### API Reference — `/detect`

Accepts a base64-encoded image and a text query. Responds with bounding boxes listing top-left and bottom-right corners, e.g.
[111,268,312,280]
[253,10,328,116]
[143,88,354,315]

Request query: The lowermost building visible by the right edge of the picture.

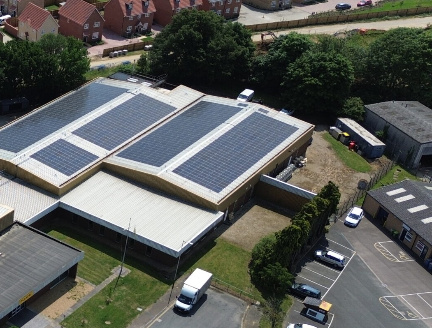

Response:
[363,176,432,258]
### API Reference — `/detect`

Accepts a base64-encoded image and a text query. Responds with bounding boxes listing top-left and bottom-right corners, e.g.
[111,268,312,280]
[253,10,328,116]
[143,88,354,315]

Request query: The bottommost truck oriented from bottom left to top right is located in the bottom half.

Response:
[173,267,213,315]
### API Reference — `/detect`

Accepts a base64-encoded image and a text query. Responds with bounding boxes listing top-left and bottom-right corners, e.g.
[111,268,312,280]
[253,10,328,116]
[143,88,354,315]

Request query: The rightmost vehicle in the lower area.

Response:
[345,209,364,227]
